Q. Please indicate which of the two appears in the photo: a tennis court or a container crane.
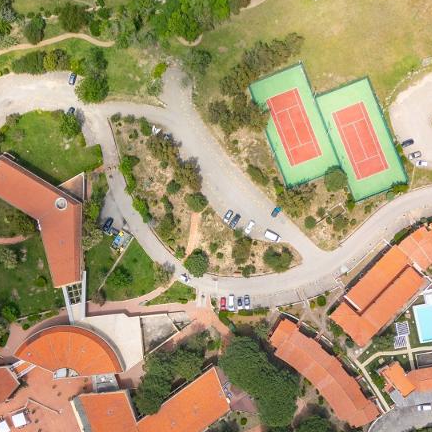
tennis court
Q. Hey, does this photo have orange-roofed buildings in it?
Yes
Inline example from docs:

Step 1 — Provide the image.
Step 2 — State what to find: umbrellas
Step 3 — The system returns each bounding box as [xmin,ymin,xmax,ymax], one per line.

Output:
[0,420,10,432]
[12,412,27,428]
